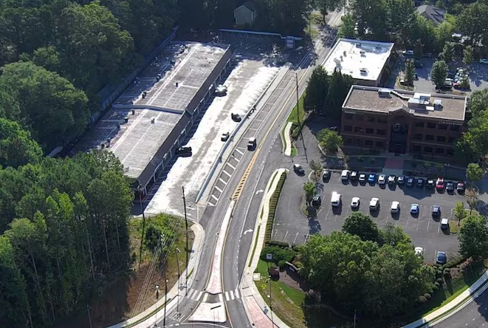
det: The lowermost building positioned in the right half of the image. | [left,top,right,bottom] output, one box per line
[341,85,470,156]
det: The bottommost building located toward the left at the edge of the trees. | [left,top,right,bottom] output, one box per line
[82,40,240,199]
